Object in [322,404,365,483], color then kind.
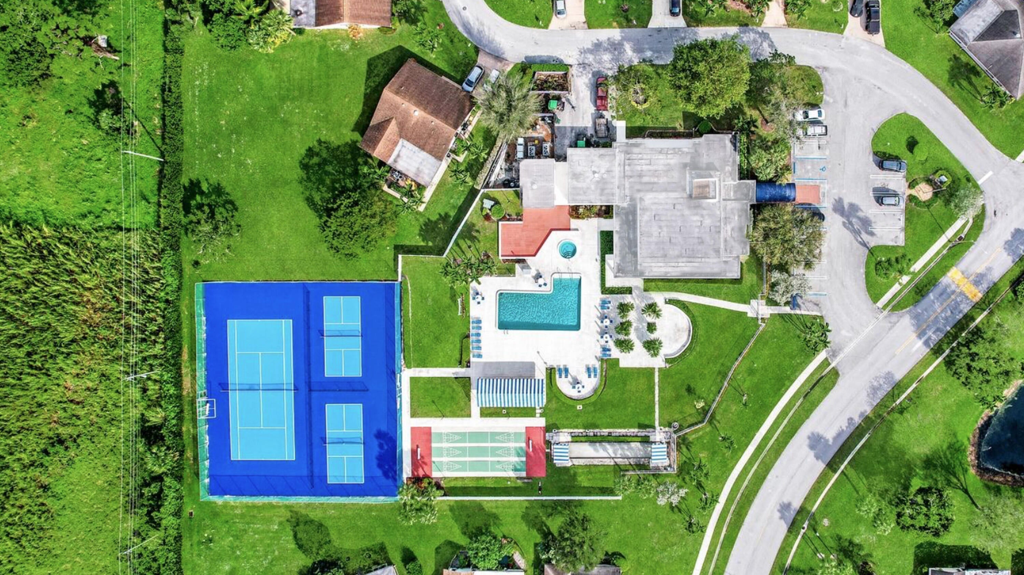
blue sports court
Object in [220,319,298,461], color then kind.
blue tennis court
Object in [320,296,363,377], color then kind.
blue sports court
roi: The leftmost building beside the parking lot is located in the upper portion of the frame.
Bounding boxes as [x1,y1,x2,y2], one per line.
[520,121,756,279]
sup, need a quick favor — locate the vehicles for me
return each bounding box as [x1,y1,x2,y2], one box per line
[668,0,681,17]
[596,76,610,111]
[877,159,907,173]
[865,0,882,35]
[554,0,566,19]
[463,64,484,93]
[794,109,825,122]
[877,194,904,207]
[482,65,502,93]
[848,0,865,19]
[797,124,828,138]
